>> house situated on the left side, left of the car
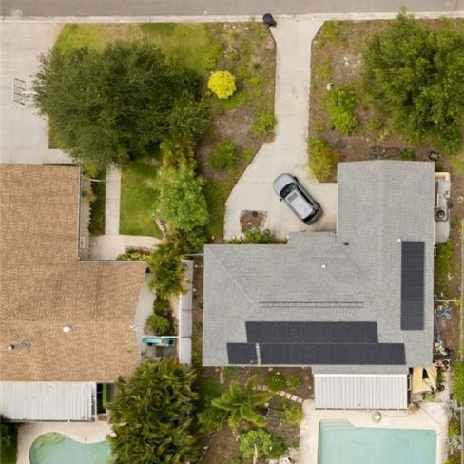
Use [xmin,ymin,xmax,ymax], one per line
[0,162,153,421]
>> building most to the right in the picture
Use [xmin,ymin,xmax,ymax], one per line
[202,158,437,410]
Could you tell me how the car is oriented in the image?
on a diagonal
